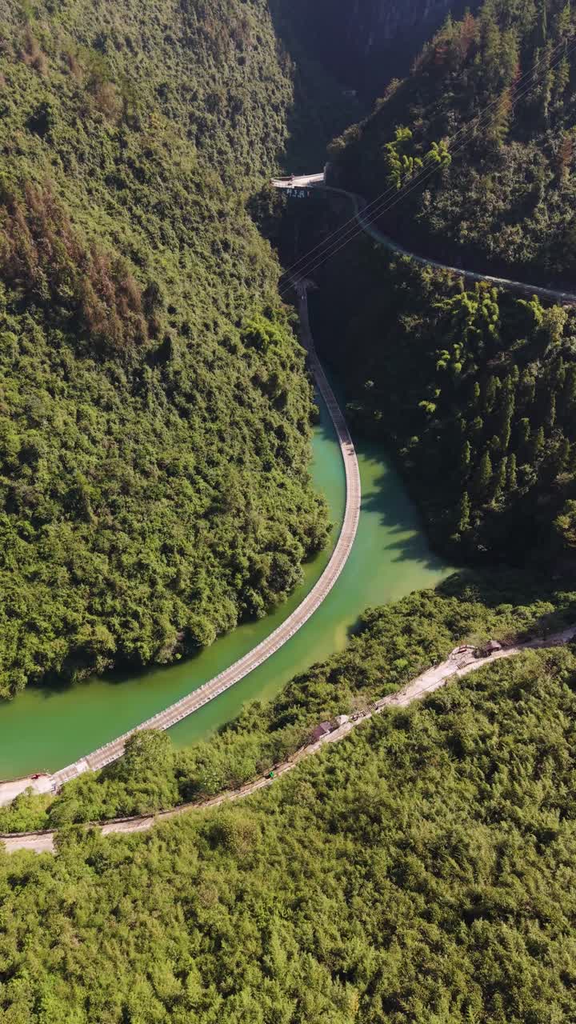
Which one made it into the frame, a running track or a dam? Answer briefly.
dam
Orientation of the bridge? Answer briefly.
diagonally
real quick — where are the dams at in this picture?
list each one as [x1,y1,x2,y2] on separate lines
[270,183,333,267]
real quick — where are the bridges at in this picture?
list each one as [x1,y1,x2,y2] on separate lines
[52,289,361,789]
